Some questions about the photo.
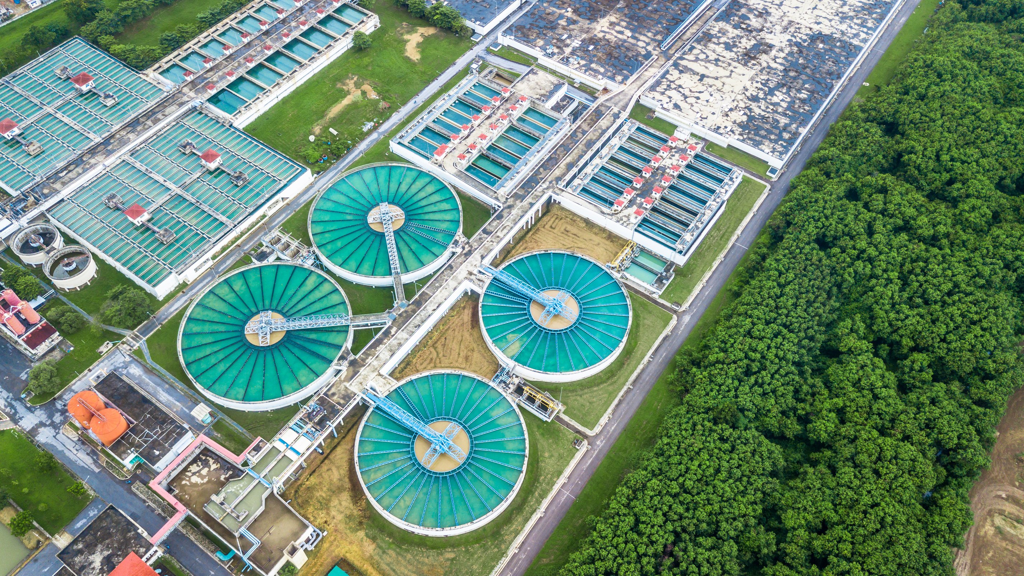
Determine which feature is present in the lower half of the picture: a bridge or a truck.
bridge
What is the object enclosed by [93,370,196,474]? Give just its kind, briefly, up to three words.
building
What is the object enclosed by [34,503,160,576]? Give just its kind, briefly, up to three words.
building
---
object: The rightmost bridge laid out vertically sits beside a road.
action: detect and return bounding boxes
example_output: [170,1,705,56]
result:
[367,198,406,275]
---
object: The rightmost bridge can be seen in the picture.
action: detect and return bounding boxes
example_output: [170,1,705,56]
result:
[487,265,578,323]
